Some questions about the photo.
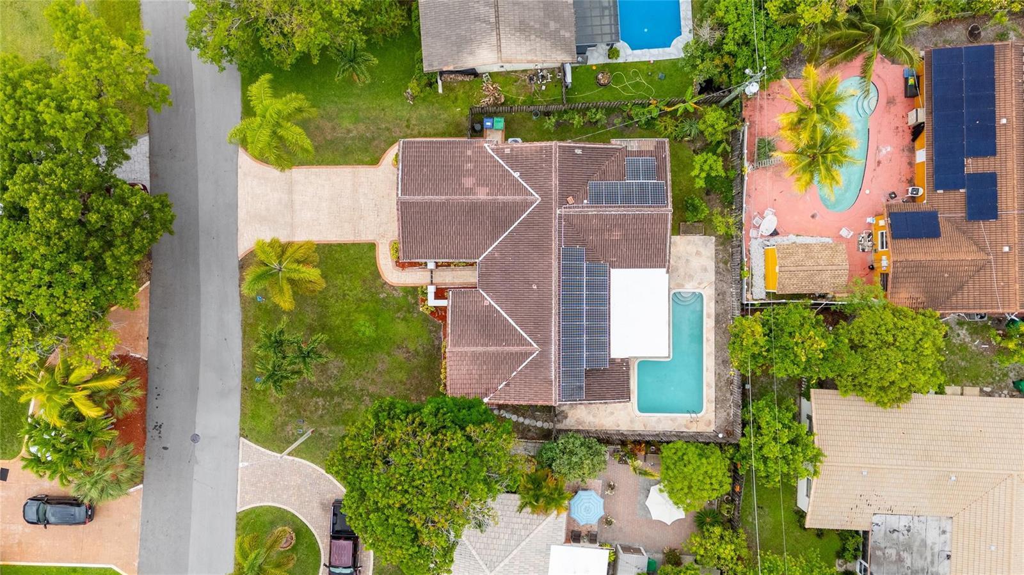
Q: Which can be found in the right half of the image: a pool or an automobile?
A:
pool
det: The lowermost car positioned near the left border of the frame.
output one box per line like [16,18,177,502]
[25,493,97,530]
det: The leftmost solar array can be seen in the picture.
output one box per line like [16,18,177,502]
[561,247,609,402]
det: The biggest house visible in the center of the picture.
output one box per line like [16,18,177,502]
[395,138,674,407]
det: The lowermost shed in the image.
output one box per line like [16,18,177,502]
[618,546,650,575]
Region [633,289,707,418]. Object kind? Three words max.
swimming pool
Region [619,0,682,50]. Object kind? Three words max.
swimming pool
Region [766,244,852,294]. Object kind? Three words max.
shed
